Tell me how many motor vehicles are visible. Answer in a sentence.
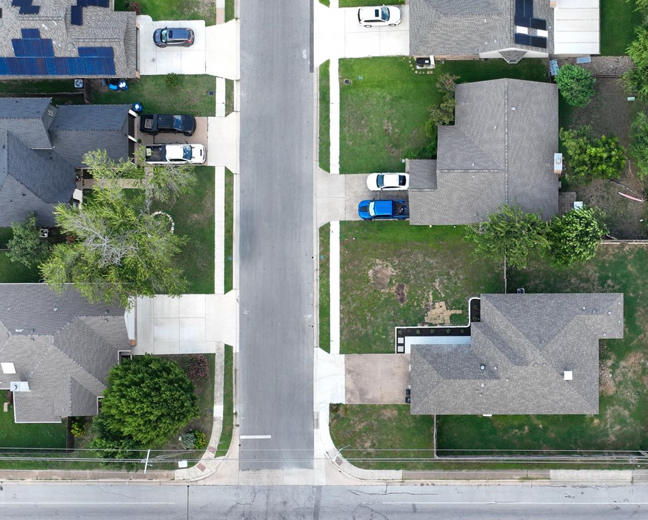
I count 6 motor vehicles.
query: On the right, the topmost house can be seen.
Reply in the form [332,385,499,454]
[410,0,557,64]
